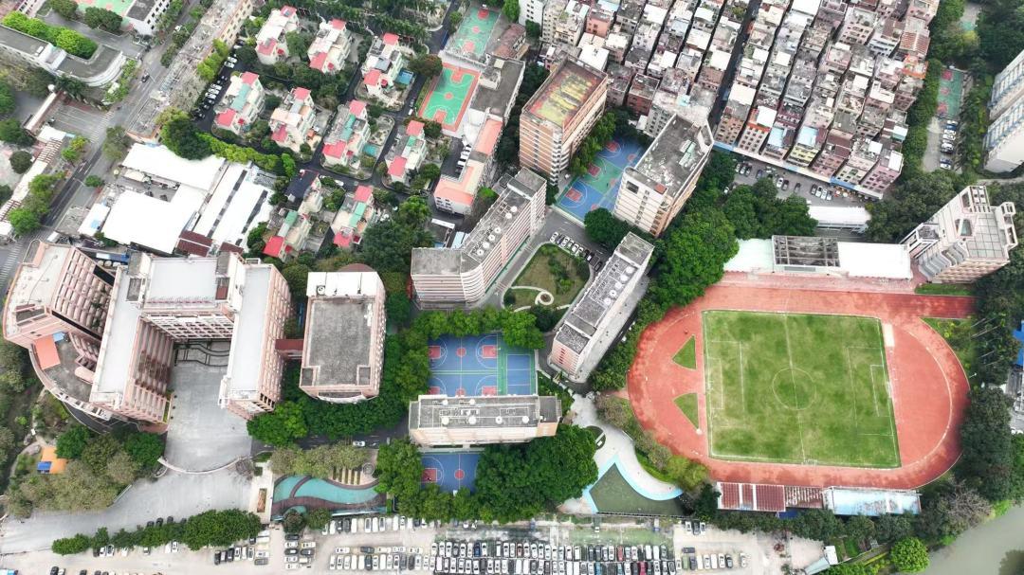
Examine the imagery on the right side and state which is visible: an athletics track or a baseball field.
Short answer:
athletics track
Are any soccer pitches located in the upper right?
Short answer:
No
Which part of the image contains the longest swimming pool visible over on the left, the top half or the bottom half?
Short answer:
bottom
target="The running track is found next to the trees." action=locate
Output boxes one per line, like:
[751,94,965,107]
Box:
[627,274,975,488]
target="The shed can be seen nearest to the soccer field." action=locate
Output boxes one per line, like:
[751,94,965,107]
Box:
[823,486,919,515]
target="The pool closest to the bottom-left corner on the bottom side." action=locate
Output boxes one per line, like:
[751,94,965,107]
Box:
[272,473,388,518]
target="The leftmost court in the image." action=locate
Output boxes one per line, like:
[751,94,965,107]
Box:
[77,0,133,26]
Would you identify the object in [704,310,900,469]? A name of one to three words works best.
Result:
soccer field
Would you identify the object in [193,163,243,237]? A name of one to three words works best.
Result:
building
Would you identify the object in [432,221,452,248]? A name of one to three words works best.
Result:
shed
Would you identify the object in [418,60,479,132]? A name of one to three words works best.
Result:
basketball court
